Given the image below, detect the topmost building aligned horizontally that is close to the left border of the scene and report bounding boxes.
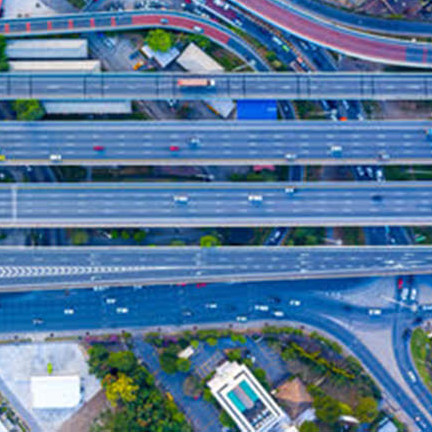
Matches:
[5,38,90,59]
